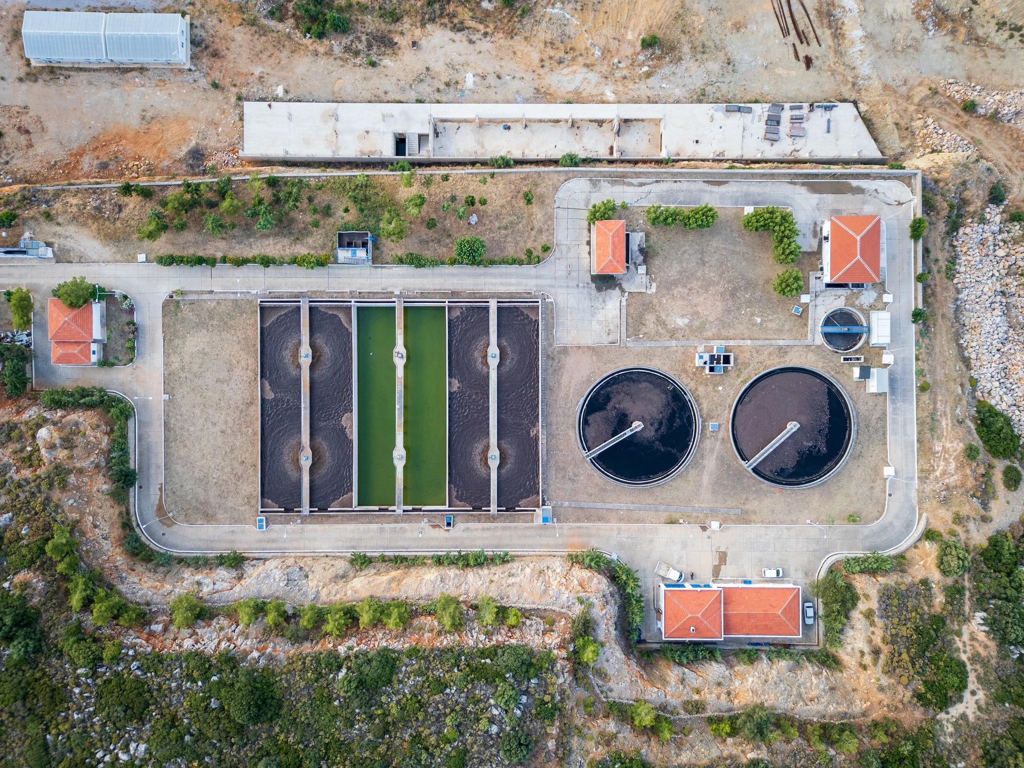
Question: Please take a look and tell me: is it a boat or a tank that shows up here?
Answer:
tank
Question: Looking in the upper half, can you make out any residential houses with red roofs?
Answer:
Yes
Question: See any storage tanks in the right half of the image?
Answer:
Yes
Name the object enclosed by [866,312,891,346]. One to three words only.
shed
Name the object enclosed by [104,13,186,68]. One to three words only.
shed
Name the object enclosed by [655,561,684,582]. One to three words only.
truck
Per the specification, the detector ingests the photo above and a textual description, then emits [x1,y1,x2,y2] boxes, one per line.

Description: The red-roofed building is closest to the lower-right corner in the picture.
[660,584,802,642]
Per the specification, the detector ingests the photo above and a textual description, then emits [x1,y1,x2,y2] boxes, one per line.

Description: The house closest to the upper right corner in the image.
[819,215,881,290]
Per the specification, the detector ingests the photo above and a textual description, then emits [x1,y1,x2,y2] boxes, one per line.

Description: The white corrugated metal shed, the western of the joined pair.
[21,12,112,66]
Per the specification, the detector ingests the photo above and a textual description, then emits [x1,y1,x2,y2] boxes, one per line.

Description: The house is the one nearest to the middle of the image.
[590,220,634,277]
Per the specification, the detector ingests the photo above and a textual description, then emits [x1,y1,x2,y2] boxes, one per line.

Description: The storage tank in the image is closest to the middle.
[576,364,702,489]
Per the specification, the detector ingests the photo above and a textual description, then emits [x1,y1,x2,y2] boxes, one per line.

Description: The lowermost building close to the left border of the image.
[48,299,102,364]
